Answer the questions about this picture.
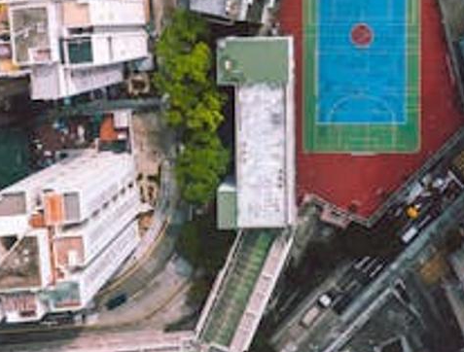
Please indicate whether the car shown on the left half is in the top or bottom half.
bottom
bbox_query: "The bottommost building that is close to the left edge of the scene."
[0,153,152,322]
